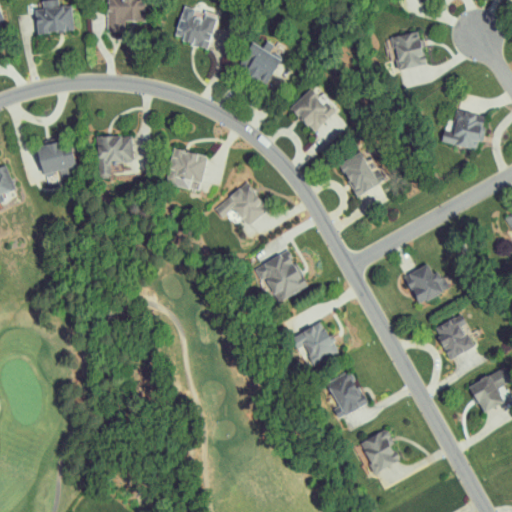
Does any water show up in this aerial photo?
No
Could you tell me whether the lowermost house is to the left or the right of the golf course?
on the right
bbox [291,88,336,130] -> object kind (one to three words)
house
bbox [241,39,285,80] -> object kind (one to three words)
house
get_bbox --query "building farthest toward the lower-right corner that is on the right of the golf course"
[469,372,512,414]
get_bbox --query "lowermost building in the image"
[360,429,401,477]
